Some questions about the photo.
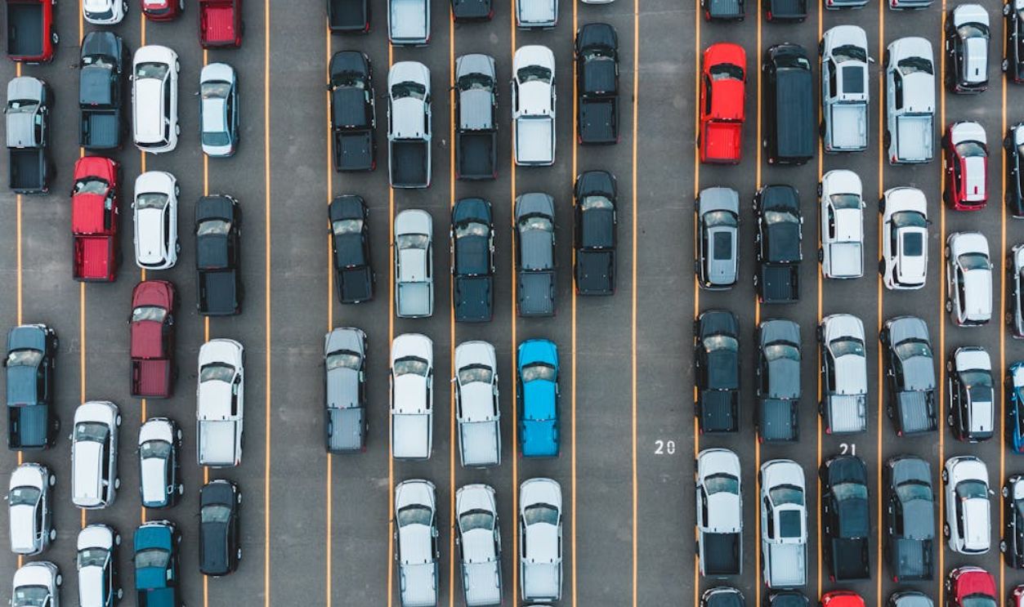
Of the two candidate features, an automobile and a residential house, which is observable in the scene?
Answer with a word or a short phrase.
automobile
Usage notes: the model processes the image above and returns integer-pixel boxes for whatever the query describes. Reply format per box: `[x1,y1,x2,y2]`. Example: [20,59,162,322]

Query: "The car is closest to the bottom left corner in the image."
[7,560,59,607]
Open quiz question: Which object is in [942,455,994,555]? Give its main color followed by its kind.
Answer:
white car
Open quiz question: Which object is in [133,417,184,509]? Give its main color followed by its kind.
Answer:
white car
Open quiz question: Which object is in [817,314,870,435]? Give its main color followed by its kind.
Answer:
white truck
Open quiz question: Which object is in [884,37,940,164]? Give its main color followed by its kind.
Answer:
white truck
